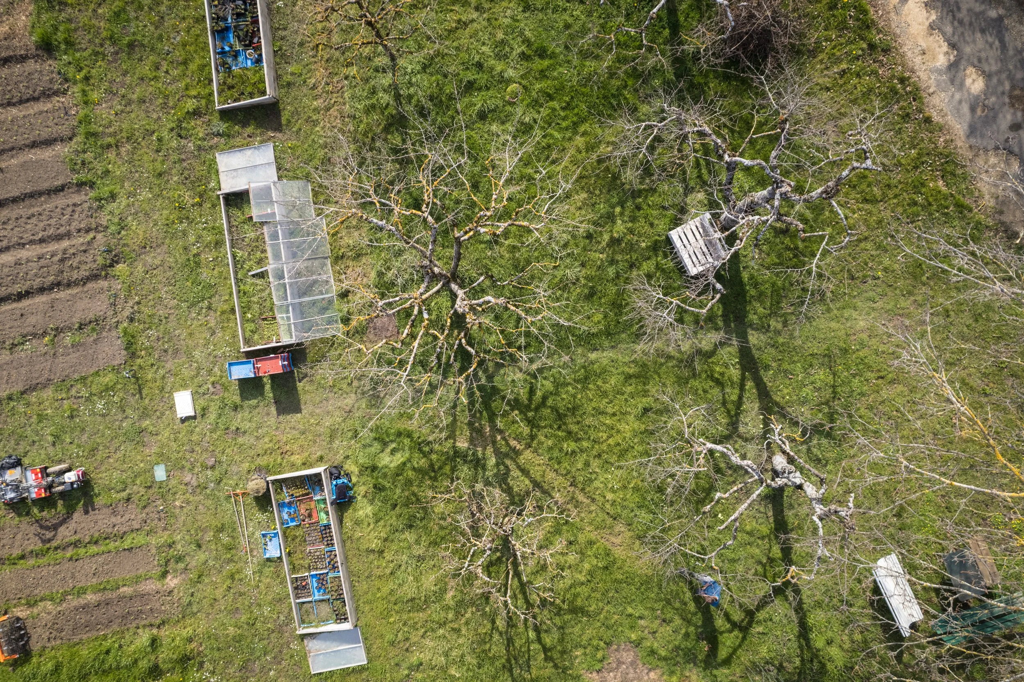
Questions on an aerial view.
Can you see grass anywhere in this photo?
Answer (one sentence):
Yes, the picture does contain grass.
